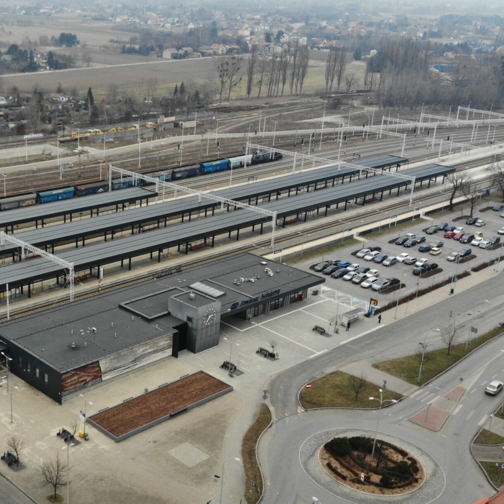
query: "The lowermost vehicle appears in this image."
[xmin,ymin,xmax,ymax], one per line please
[482,382,504,396]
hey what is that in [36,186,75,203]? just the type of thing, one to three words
rail car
